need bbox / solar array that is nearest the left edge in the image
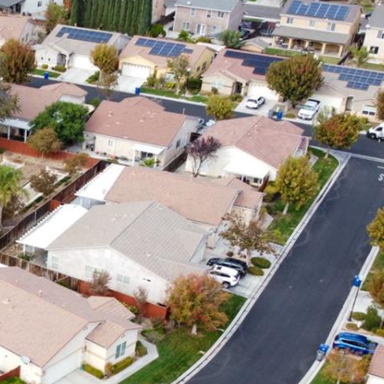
[58,26,113,43]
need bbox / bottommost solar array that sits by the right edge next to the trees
[323,64,384,83]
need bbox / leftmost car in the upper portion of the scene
[247,97,264,111]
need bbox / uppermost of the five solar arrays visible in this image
[285,0,351,18]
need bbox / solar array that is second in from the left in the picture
[134,38,189,55]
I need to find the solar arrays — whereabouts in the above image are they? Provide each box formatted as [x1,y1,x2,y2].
[323,64,384,83]
[285,0,351,18]
[134,38,189,55]
[58,26,113,43]
[224,50,281,77]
